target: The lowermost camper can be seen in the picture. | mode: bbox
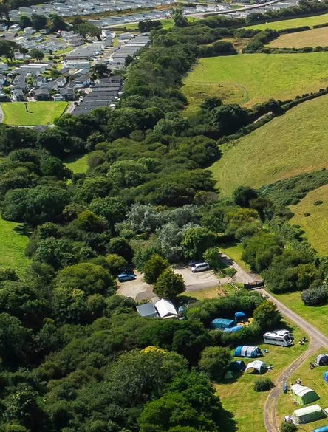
[262,330,294,347]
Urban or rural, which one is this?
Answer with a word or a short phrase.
rural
